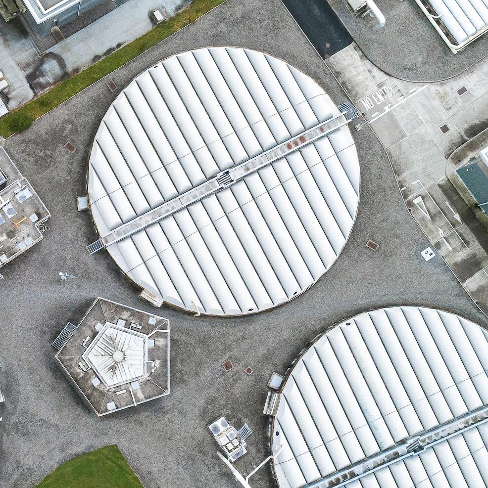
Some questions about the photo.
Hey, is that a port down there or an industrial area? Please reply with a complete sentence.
This image shows an industrial area.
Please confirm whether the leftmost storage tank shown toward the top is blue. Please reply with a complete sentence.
No, the color of the leftmost storage tank shown toward the top is white.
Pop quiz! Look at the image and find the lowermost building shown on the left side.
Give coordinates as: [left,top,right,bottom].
[51,297,170,416]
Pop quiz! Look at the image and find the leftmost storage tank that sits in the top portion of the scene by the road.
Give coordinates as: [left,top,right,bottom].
[78,43,363,320]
